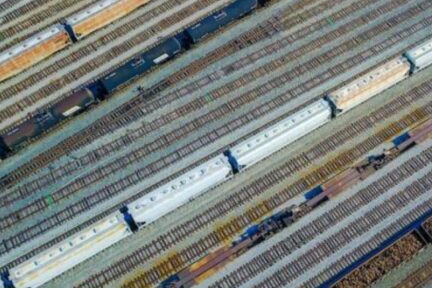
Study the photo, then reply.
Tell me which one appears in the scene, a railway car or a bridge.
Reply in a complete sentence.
The image shows a railway car.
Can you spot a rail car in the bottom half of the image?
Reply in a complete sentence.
Yes, I can see a rail car in the bottom half of the image.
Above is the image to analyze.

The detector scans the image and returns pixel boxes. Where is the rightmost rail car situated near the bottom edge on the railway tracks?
[4,206,135,288]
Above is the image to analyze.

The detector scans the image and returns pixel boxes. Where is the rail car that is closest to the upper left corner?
[0,23,74,84]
